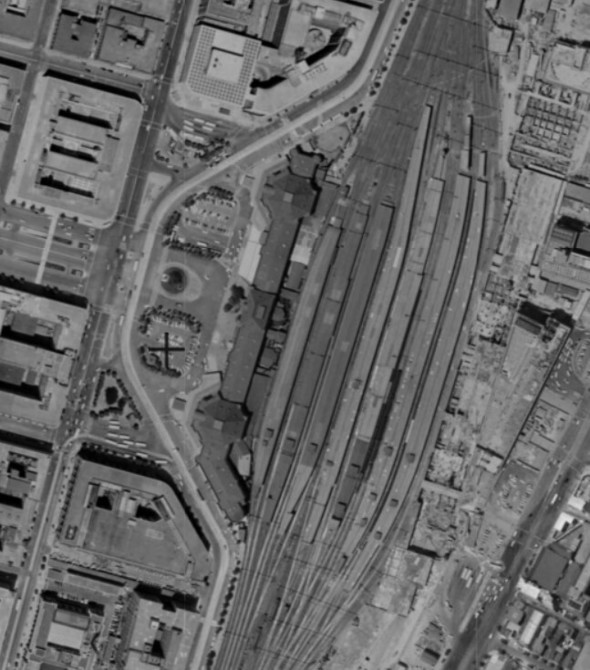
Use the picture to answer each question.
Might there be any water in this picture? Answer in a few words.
No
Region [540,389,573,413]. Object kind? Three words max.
house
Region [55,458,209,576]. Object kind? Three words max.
building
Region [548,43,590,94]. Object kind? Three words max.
building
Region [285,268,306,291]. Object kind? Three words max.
shed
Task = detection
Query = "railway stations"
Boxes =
[193,152,319,521]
